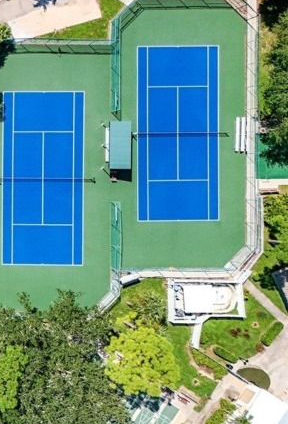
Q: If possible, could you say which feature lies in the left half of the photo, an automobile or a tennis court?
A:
tennis court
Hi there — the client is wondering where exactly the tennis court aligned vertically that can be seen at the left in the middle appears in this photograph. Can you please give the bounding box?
[0,43,112,340]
